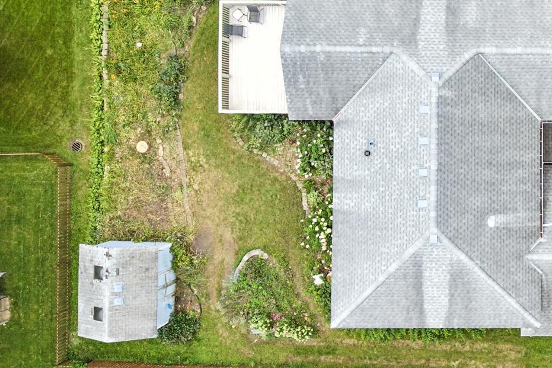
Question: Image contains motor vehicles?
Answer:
No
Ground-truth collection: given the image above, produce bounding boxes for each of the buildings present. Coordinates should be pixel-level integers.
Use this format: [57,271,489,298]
[79,241,175,347]
[280,0,552,336]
